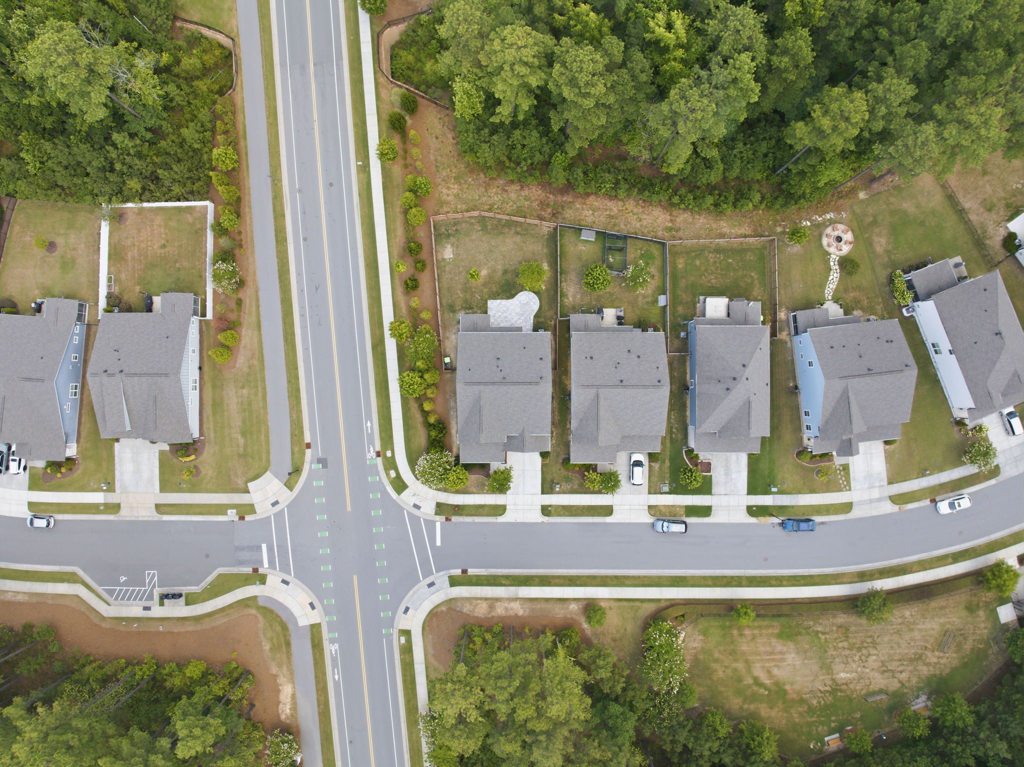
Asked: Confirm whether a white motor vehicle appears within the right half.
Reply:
Yes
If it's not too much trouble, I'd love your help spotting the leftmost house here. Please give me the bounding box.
[0,298,87,460]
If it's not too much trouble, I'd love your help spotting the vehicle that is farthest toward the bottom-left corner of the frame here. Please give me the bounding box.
[24,515,53,531]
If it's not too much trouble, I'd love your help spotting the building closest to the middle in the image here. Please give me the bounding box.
[457,313,553,463]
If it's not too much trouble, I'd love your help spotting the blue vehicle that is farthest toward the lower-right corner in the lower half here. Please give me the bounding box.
[783,519,817,535]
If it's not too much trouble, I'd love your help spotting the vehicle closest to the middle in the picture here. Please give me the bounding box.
[630,453,646,486]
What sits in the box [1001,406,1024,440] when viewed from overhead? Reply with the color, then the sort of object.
white car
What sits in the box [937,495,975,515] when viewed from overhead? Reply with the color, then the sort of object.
white car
